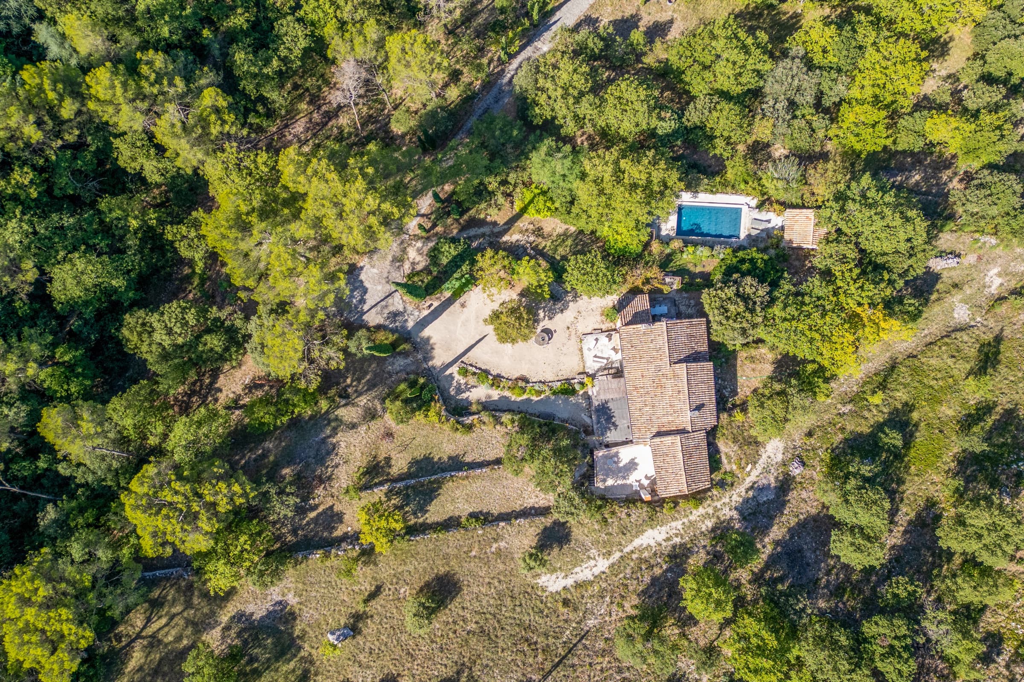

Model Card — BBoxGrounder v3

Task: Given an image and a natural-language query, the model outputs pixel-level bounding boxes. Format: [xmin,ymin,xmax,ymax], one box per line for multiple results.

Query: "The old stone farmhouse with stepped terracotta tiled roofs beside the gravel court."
[617,317,719,498]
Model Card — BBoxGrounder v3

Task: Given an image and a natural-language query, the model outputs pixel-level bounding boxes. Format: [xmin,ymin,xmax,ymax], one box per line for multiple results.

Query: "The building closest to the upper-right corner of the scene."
[777,208,829,251]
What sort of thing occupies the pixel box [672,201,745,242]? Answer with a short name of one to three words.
swimming pool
